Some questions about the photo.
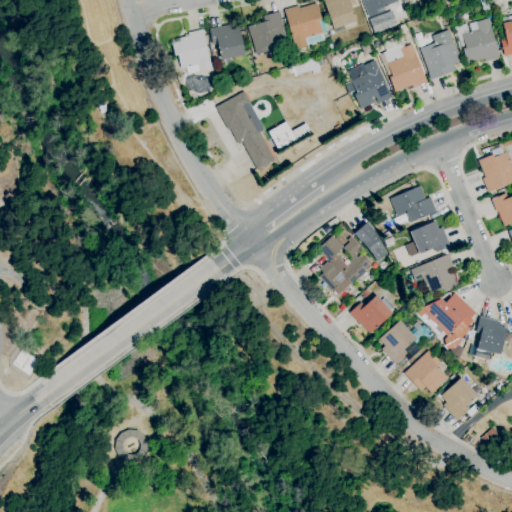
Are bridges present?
Yes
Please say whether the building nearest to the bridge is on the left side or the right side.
left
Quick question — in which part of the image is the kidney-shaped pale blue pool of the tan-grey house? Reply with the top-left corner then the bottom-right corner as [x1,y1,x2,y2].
[414,324,434,344]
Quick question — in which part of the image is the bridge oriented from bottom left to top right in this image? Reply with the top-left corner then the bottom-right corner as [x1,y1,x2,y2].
[30,256,223,410]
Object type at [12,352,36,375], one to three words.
building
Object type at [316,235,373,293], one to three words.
house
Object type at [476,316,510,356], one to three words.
house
